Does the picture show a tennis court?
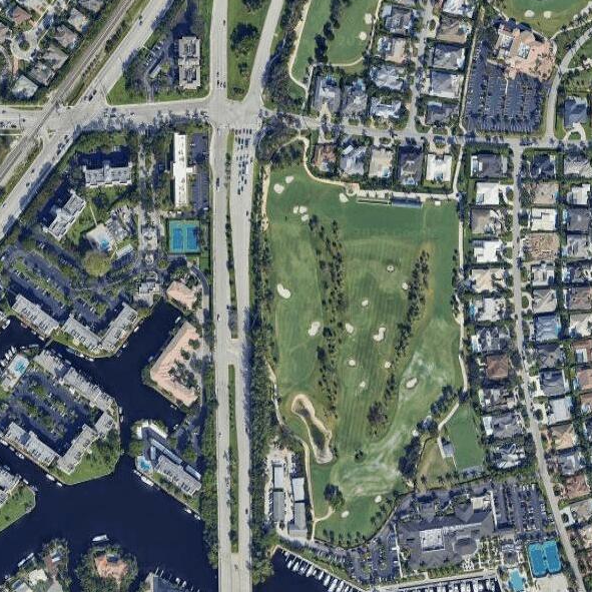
Yes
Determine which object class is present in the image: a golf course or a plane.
golf course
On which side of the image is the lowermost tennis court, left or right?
right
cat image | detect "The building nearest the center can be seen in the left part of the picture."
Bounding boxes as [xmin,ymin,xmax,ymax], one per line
[167,281,196,311]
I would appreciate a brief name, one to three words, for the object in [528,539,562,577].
tennis court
